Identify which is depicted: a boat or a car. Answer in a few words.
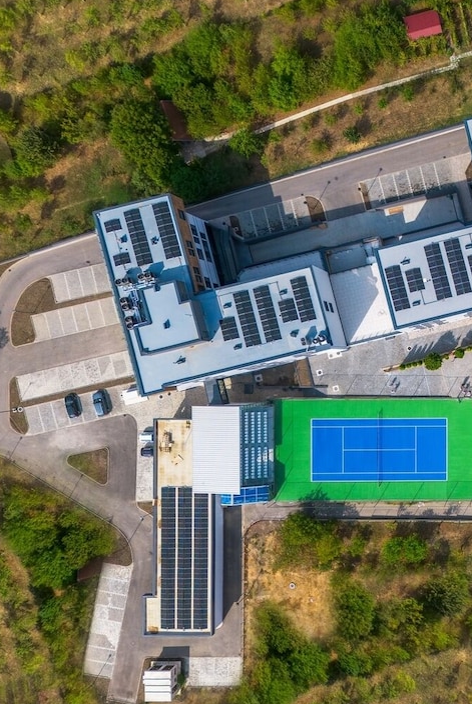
car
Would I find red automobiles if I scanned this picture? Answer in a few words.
No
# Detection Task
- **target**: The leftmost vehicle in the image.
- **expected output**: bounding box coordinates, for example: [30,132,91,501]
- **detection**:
[62,393,80,418]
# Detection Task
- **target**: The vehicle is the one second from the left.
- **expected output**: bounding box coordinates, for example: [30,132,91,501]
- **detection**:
[90,390,108,415]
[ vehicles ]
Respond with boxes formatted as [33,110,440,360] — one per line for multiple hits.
[138,446,153,459]
[62,393,80,418]
[90,390,108,415]
[138,432,153,444]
